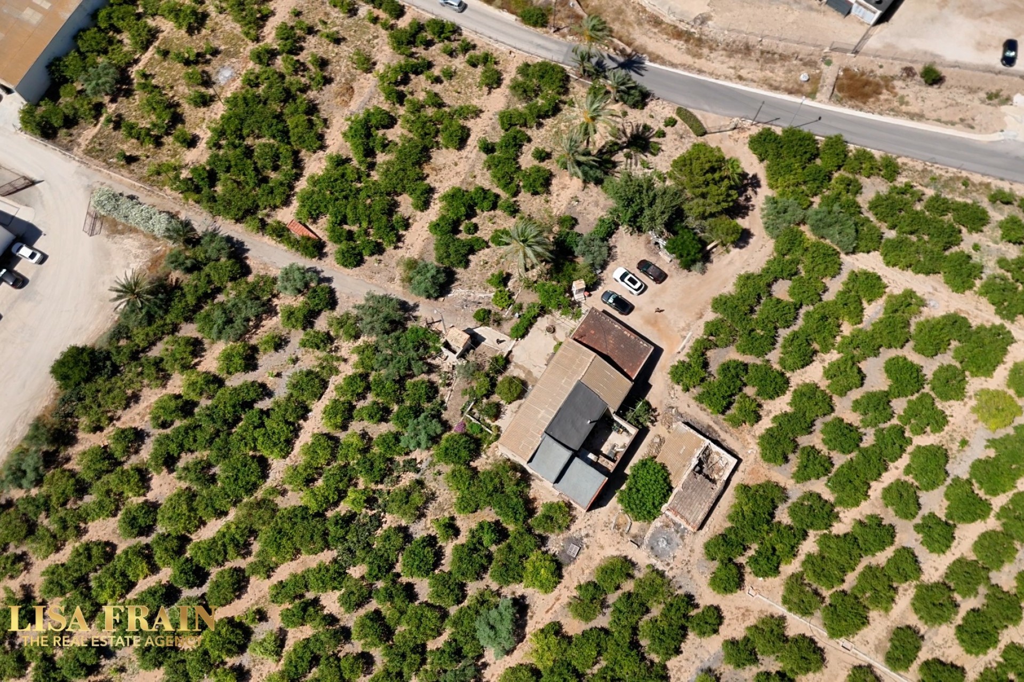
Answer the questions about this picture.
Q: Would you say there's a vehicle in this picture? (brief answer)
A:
Yes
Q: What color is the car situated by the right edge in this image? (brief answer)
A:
black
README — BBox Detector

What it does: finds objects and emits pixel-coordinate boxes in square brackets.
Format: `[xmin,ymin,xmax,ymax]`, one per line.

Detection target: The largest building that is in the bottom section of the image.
[497,307,655,514]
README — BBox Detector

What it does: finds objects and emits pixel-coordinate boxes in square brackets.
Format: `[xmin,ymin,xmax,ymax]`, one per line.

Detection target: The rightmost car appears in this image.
[998,39,1018,67]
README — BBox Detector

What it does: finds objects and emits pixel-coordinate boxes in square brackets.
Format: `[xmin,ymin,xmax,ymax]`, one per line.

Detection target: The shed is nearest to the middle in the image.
[438,325,472,361]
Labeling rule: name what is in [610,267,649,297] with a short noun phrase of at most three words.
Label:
car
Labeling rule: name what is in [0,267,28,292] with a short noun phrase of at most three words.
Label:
car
